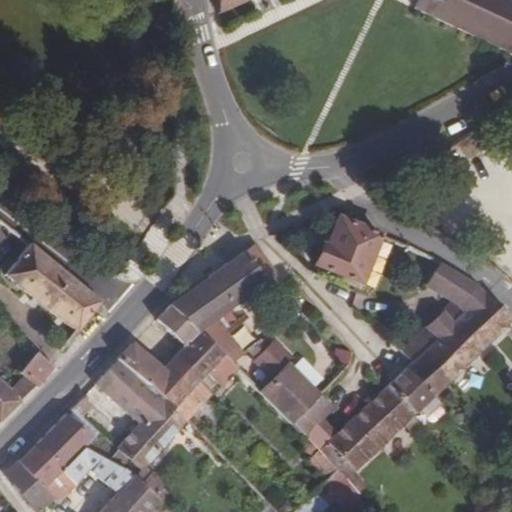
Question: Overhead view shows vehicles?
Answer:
Yes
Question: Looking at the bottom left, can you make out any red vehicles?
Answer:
No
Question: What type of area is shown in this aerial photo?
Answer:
residential area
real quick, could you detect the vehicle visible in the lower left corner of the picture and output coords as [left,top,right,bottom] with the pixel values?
[6,435,27,455]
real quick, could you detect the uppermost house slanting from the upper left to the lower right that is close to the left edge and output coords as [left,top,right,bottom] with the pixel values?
[6,242,103,332]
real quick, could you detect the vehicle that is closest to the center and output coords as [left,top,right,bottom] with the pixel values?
[326,282,350,302]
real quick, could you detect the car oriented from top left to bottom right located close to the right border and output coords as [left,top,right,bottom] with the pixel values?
[472,157,490,180]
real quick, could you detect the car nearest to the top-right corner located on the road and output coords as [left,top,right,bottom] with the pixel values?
[486,86,508,102]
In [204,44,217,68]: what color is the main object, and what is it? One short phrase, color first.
white vehicle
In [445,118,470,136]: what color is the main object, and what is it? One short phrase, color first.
white vehicle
